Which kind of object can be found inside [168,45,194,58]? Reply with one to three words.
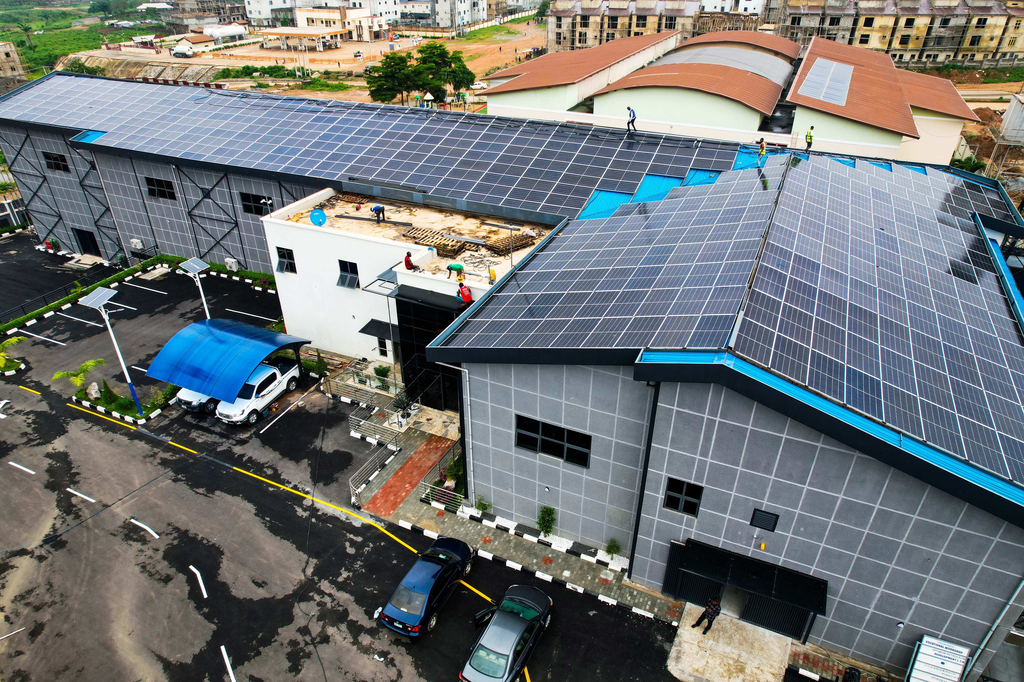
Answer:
vehicle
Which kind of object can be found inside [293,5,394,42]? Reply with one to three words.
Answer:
building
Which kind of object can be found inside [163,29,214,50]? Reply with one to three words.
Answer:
house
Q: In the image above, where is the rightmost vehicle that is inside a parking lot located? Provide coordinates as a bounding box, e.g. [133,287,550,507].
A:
[456,584,554,682]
